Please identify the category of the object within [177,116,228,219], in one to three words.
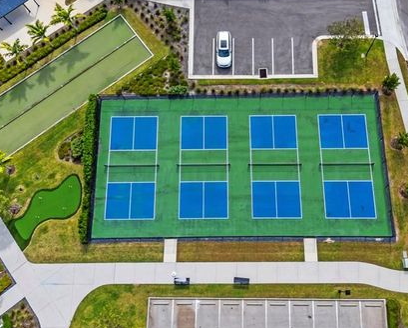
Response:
sports court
